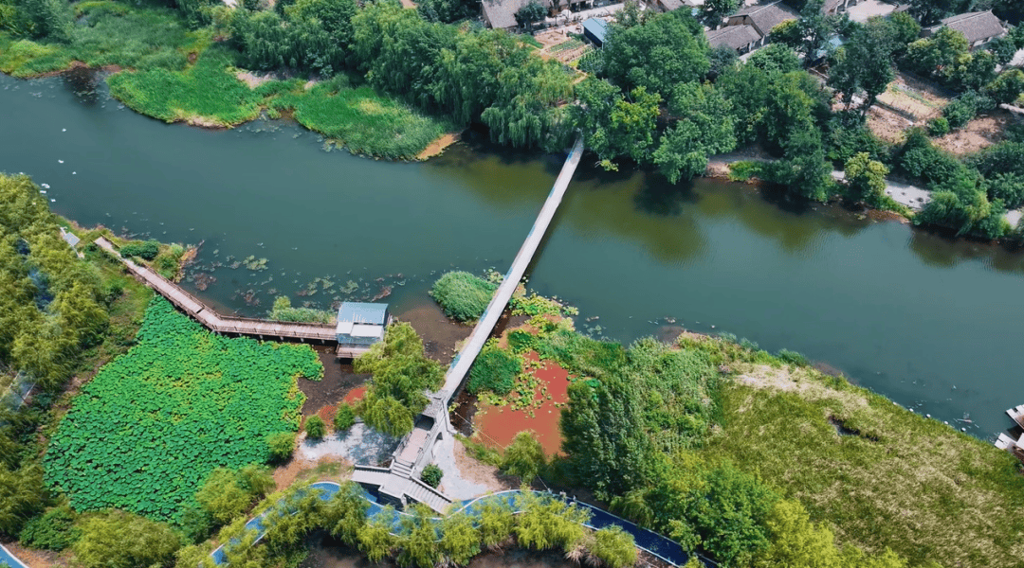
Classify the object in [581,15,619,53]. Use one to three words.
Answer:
shed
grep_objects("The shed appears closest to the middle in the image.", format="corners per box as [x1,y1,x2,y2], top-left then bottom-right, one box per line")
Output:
[334,297,397,362]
